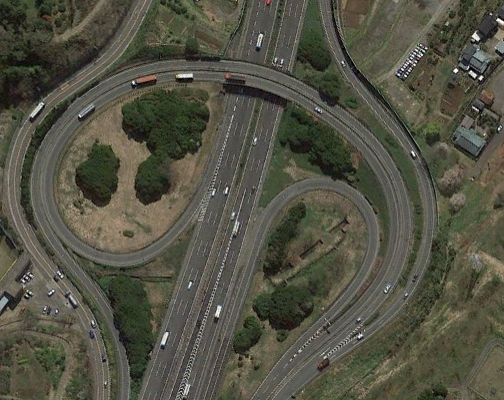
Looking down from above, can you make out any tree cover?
Yes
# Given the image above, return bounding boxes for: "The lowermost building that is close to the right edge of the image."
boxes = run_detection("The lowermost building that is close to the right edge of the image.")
[451,123,488,156]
